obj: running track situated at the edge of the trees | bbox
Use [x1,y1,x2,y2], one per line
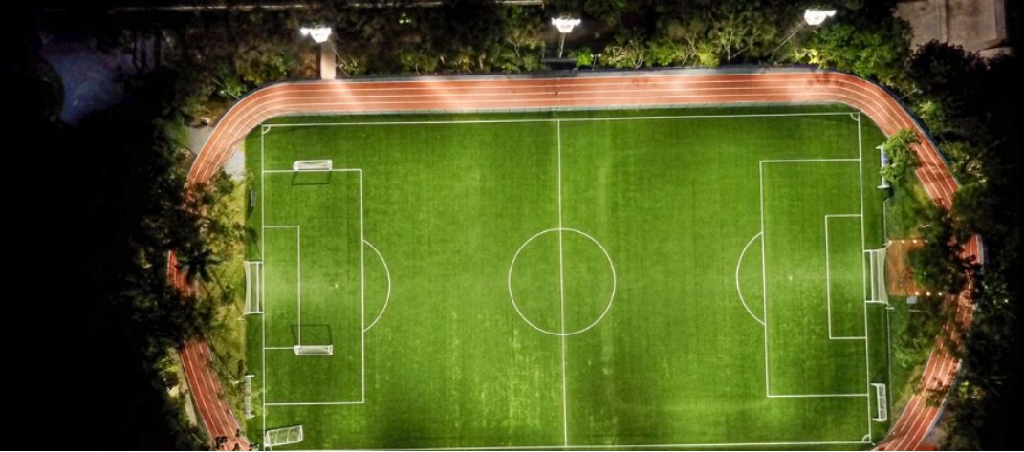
[169,72,978,452]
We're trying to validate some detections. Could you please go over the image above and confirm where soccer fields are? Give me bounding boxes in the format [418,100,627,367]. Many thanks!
[242,102,892,452]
